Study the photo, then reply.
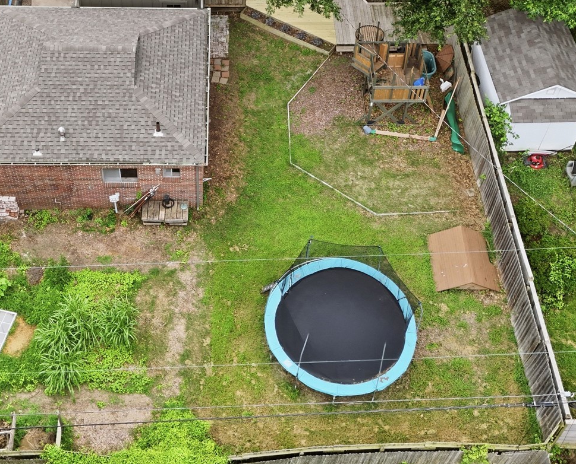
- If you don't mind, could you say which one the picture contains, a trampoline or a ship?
trampoline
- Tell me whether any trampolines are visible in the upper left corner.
No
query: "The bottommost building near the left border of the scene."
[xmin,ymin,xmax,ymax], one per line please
[0,4,214,206]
